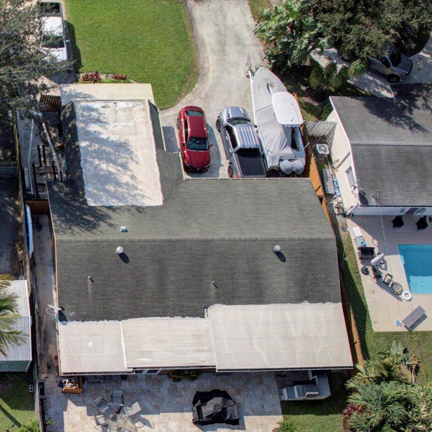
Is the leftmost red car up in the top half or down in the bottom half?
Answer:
top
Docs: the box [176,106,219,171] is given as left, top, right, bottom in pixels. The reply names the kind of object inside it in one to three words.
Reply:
car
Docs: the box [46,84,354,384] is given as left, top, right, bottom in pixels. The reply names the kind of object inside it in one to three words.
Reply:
building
